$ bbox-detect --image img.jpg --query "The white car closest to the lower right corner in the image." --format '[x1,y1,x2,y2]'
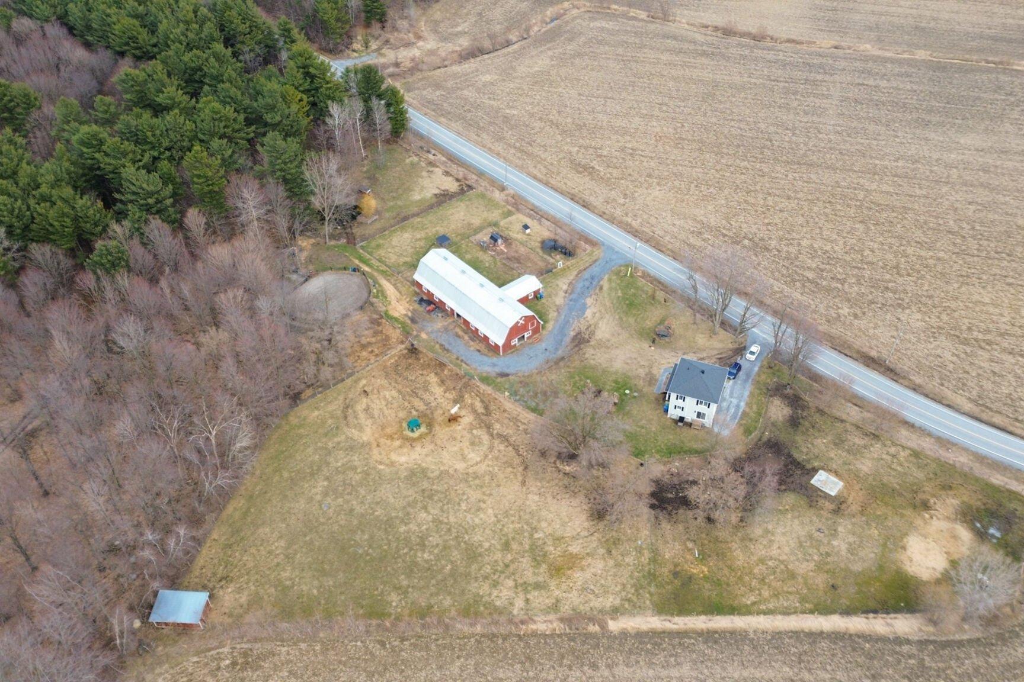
[747,344,759,362]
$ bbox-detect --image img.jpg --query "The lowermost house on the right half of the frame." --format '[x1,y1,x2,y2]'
[661,360,728,433]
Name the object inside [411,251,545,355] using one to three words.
barn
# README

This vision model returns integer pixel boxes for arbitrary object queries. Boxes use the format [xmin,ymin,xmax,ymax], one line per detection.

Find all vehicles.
[425,300,437,310]
[728,361,741,381]
[747,344,759,362]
